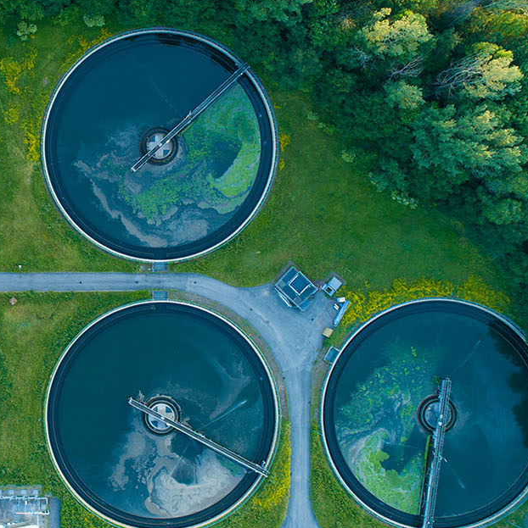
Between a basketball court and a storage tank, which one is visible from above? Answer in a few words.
storage tank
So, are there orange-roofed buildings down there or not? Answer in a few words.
No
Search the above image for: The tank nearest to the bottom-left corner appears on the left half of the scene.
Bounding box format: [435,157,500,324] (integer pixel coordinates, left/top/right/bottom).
[45,299,283,528]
